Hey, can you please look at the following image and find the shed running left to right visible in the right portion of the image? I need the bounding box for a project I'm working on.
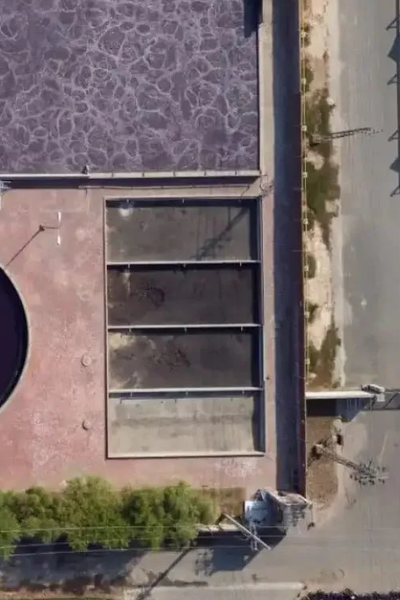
[262,486,313,506]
